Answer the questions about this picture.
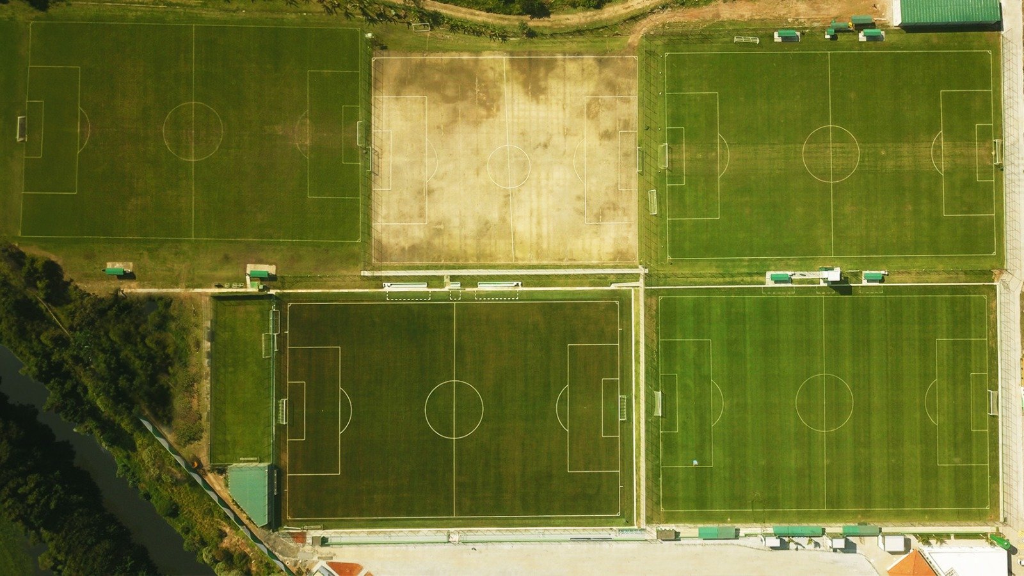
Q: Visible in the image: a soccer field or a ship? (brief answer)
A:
soccer field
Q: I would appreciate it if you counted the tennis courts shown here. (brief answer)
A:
0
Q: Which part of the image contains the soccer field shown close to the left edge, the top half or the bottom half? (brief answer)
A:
top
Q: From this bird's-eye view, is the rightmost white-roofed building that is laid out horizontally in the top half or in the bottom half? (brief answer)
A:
bottom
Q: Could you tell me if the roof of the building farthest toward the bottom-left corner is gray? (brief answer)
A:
No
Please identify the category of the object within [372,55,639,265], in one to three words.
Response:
soccer field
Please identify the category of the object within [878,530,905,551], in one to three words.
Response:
building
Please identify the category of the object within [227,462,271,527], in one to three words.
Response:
building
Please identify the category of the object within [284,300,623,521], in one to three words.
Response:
soccer field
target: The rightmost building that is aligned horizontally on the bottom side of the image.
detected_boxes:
[913,545,1009,576]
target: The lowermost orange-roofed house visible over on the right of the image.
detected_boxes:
[882,545,943,576]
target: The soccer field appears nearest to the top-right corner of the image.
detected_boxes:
[664,50,997,260]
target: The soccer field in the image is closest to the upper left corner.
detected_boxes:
[20,21,362,244]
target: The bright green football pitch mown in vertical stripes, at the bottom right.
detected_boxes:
[658,294,991,512]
